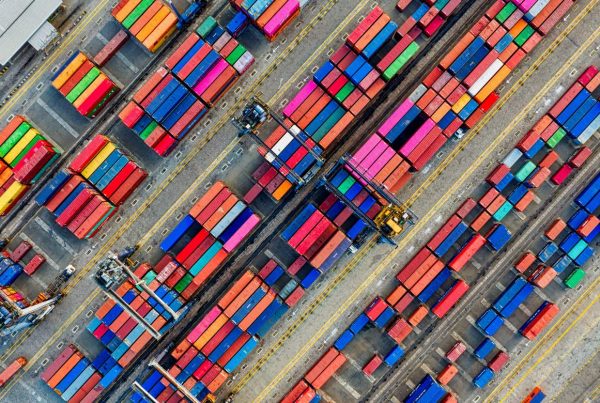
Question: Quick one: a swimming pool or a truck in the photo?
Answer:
truck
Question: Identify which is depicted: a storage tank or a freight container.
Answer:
freight container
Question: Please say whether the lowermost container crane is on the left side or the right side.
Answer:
left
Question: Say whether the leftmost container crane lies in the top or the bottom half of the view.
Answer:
bottom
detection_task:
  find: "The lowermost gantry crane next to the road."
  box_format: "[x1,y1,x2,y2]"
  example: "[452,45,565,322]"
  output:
[131,338,204,403]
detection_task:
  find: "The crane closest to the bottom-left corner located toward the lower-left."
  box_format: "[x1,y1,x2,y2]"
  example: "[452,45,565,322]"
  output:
[0,280,64,340]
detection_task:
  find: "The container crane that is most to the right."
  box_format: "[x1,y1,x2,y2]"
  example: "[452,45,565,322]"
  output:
[317,152,418,247]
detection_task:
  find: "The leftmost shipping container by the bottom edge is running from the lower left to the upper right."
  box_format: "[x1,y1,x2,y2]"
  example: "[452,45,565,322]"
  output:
[0,357,26,390]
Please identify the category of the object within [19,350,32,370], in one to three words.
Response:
vehicle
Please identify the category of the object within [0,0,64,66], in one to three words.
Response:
building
